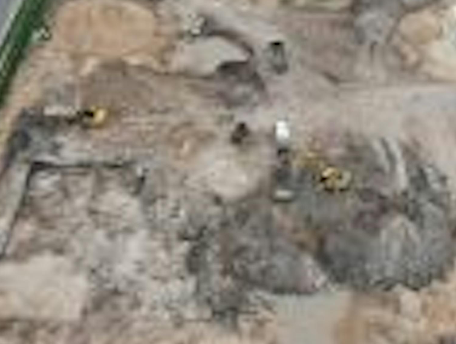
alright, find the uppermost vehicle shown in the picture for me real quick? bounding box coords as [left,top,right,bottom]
[270,35,288,71]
